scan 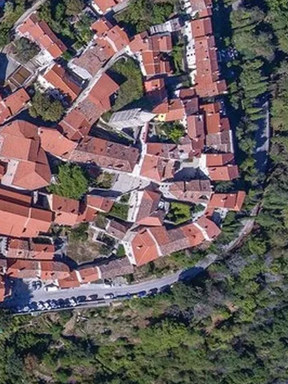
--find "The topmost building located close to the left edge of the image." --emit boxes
[11,15,67,62]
